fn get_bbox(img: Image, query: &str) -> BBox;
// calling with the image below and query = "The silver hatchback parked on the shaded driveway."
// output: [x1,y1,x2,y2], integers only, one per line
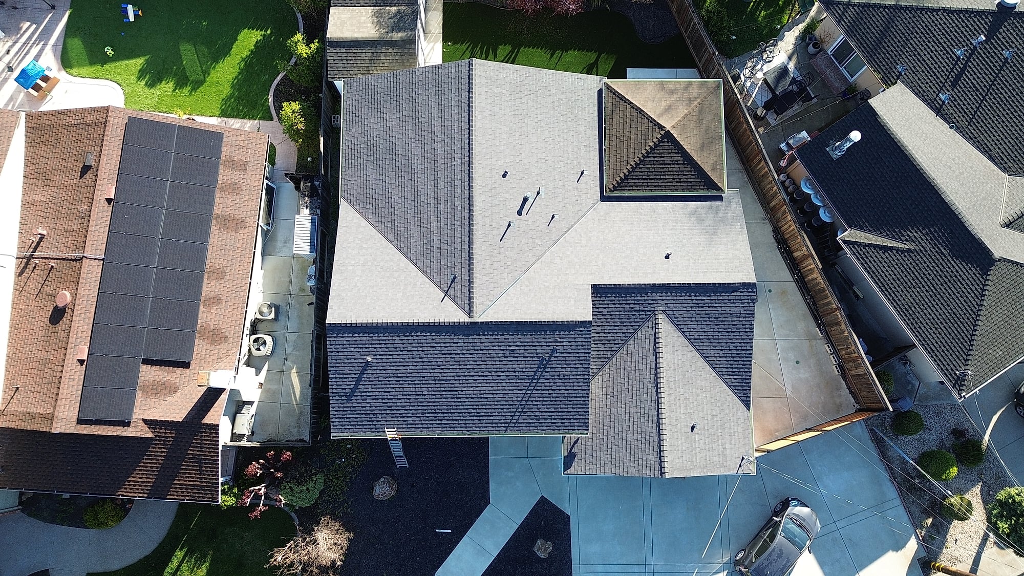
[732,499,822,576]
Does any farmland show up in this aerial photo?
No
